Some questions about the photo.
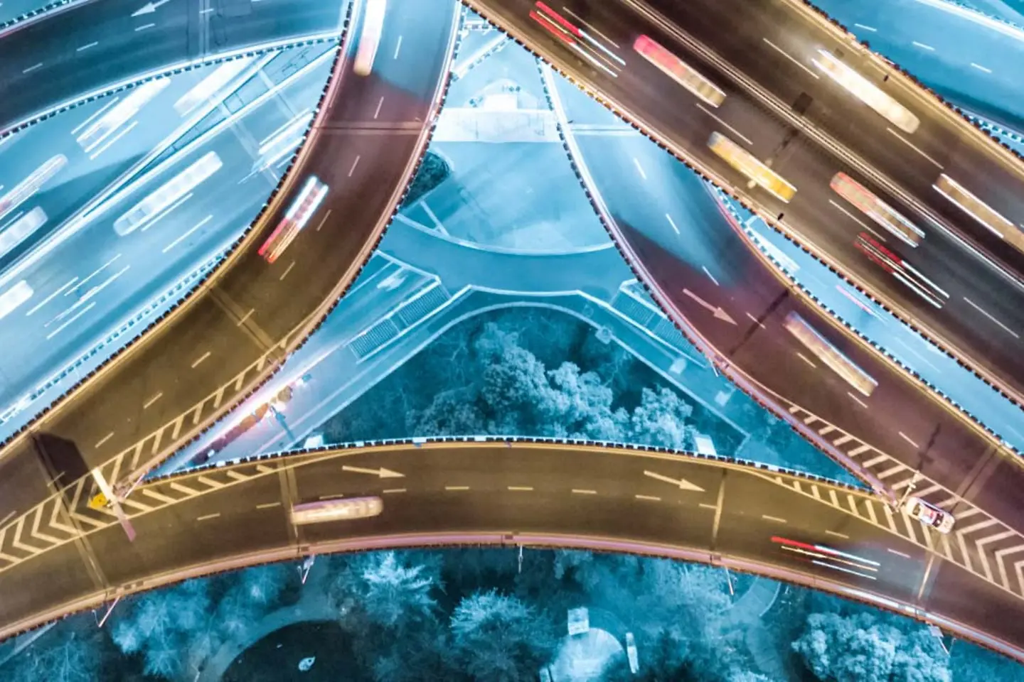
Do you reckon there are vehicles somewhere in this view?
Yes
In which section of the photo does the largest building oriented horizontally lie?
top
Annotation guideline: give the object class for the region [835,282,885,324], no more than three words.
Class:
car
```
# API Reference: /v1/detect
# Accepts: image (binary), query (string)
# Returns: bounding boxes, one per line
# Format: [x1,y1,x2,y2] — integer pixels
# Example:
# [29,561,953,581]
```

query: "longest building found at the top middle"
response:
[429,94,561,144]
